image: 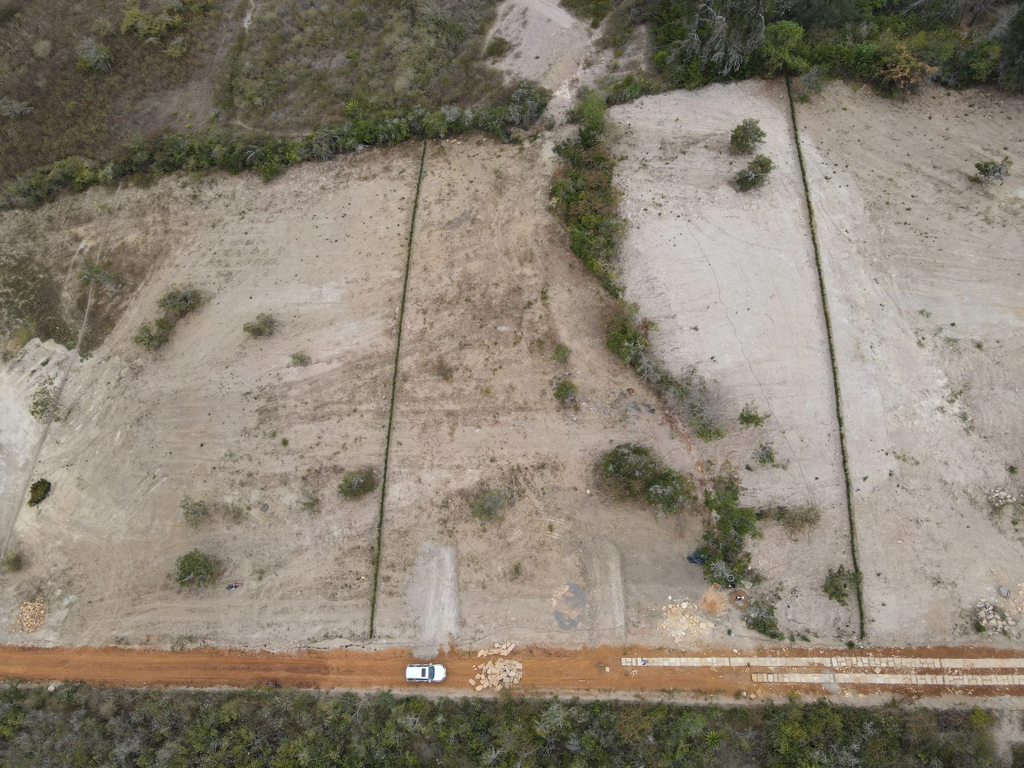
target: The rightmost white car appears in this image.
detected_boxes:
[404,662,447,684]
